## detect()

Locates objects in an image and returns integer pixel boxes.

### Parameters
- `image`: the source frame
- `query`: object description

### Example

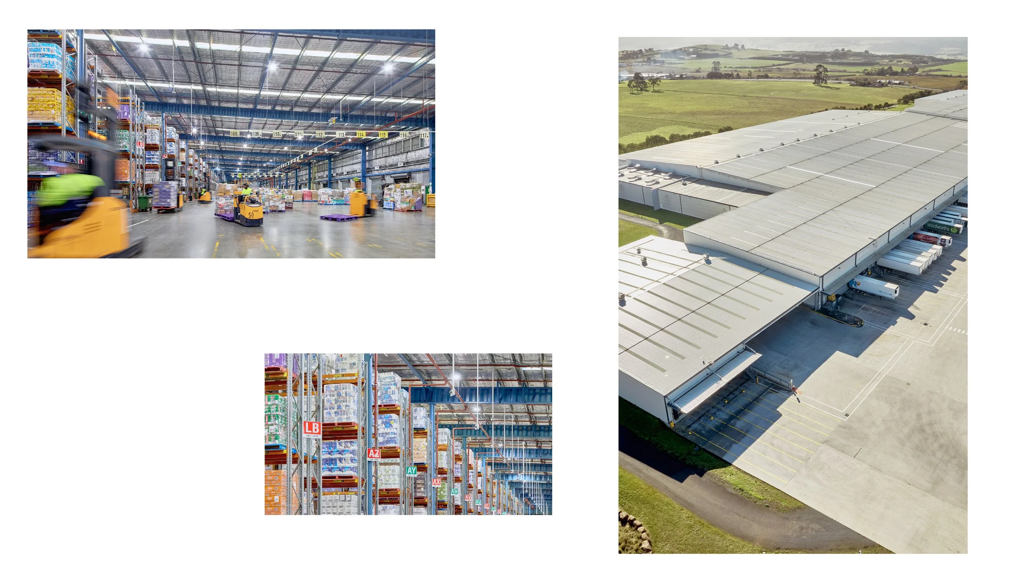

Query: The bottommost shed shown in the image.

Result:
[618,235,826,429]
